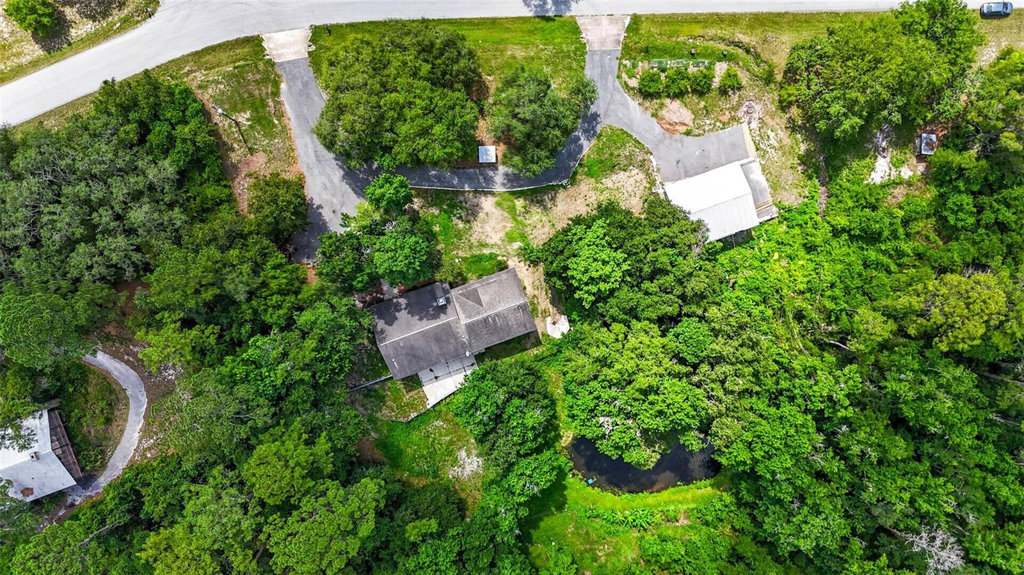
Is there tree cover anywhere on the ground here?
Yes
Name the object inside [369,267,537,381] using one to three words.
house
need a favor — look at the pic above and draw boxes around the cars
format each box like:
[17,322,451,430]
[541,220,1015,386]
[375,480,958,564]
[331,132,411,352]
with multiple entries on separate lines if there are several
[980,1,1011,18]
